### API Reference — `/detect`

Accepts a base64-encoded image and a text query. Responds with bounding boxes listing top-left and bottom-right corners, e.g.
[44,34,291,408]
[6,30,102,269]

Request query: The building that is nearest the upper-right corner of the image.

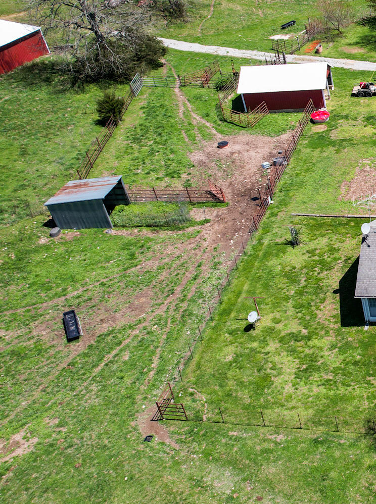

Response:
[234,64,340,112]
